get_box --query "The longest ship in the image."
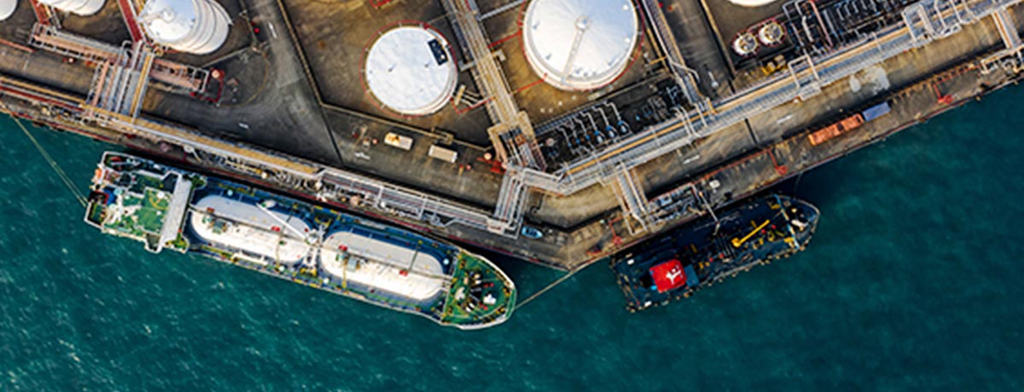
[82,152,515,330]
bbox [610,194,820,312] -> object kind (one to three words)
ship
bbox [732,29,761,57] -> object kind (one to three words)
storage tank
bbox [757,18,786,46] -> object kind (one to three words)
storage tank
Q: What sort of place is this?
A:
industrial area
